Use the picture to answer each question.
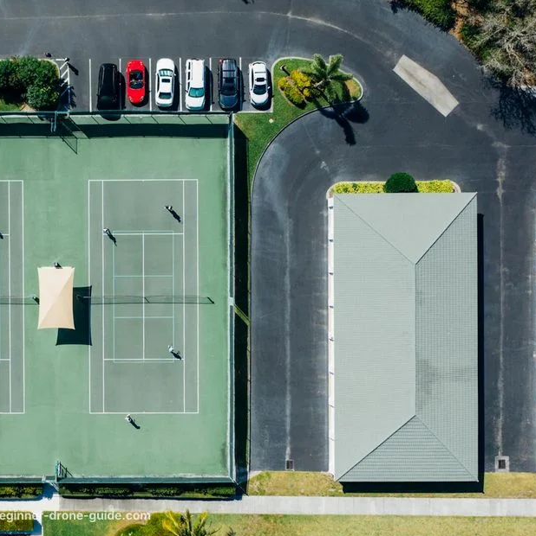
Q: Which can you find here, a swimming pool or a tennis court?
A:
tennis court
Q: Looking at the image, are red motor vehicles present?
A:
Yes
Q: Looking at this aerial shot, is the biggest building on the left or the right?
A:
right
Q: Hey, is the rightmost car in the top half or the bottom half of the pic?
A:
top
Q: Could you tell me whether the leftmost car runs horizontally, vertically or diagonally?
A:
vertically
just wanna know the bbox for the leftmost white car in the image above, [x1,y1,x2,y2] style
[155,58,178,108]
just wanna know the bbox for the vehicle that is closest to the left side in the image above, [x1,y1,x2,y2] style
[95,60,119,111]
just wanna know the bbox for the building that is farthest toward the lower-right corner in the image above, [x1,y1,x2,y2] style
[326,192,478,483]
